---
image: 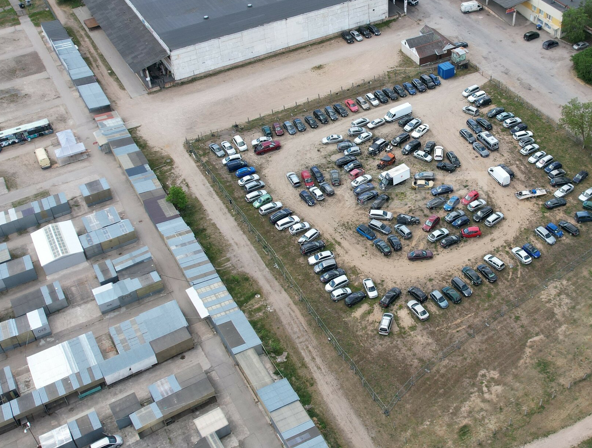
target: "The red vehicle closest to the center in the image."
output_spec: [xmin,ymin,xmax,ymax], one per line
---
[299,169,315,190]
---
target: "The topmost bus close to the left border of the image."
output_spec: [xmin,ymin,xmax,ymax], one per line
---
[0,119,58,152]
